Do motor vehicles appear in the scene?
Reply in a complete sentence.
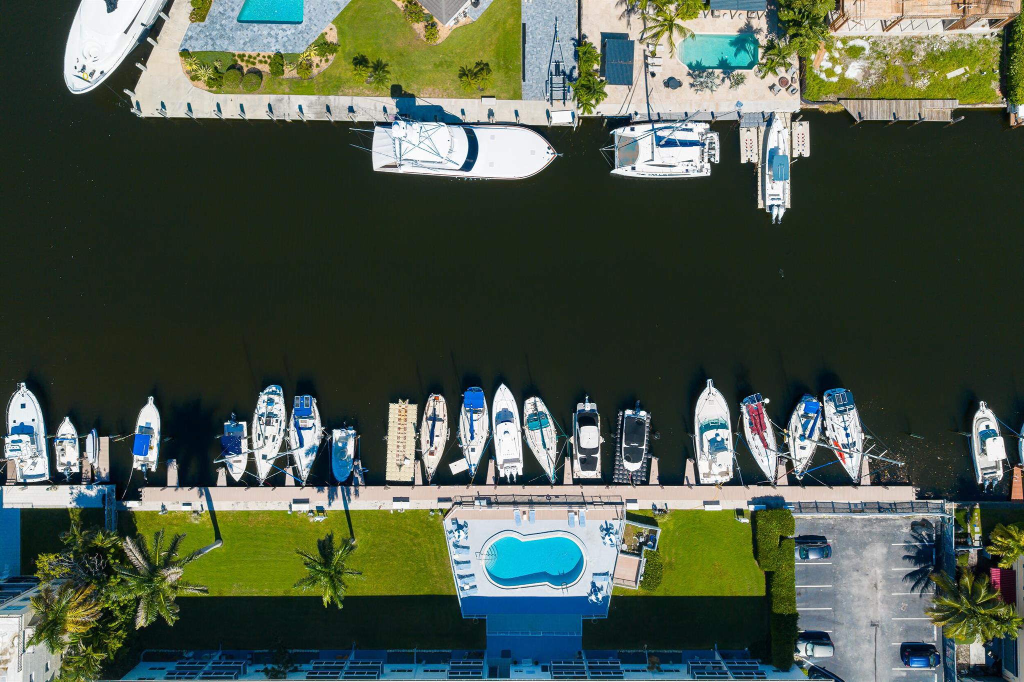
Yes, the photo shows a motor vehicle.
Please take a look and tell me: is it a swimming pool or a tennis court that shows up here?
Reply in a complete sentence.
Visible in the photo is a swimming pool.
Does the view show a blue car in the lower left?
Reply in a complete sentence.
No, no blue car is visible in the lower left.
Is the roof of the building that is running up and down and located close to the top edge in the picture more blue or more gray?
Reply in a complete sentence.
The roof of the building that is running up and down and located close to the top edge is blue.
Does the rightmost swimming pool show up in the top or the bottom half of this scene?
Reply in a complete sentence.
It is in the top half that the rightmost swimming pool appears.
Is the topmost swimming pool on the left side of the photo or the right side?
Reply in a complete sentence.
The topmost swimming pool is on the left side of the image.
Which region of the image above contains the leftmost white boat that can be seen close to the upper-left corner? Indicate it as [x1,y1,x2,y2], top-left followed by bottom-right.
[61,0,177,94]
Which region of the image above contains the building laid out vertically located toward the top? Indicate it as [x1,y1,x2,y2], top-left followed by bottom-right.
[605,31,635,91]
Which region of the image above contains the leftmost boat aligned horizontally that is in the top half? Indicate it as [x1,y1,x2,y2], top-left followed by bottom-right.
[349,109,563,179]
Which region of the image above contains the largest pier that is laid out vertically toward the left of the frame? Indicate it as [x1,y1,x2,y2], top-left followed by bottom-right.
[386,399,418,480]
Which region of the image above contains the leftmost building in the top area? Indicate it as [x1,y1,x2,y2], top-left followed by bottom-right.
[418,0,473,28]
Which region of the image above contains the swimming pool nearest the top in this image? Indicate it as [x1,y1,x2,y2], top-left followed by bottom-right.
[234,0,306,27]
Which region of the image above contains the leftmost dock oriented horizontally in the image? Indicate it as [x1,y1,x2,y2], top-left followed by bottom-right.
[2,484,118,508]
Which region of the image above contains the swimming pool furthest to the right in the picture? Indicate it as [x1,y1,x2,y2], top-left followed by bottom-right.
[674,30,762,72]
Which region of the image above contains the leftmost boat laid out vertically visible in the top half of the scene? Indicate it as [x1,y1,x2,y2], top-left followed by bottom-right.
[706,131,720,164]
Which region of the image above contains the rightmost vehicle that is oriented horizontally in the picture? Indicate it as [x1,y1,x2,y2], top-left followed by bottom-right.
[900,649,939,668]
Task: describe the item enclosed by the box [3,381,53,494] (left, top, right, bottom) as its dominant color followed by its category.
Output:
white boat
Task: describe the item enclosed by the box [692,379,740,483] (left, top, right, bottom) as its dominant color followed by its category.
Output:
white boat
